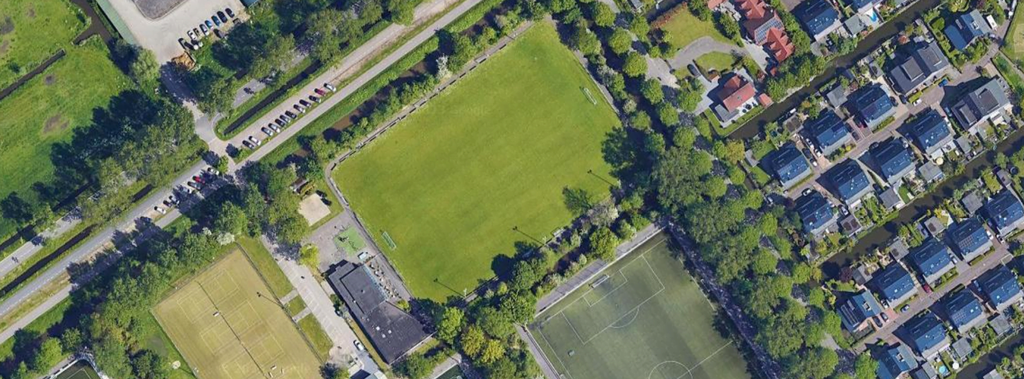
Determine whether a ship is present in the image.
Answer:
No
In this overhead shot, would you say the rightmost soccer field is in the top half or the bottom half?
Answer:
bottom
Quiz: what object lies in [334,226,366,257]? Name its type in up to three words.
playground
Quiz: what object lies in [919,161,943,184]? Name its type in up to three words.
shed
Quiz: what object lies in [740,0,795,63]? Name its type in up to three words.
house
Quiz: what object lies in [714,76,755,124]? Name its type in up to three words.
house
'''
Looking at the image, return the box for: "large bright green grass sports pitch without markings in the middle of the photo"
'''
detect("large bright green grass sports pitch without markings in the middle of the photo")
[333,21,643,321]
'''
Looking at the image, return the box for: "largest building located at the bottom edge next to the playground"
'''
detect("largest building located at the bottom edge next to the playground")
[329,262,434,365]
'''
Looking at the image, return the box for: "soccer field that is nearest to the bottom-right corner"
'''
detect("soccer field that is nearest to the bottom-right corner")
[528,229,760,379]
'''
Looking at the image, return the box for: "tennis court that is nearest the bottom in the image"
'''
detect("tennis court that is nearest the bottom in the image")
[151,246,332,379]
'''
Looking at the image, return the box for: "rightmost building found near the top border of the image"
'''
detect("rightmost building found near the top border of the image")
[944,10,991,51]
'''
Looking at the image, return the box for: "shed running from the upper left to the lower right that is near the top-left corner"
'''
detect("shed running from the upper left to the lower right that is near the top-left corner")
[98,0,140,46]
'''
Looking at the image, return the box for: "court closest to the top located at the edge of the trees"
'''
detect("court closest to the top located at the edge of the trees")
[300,193,331,223]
